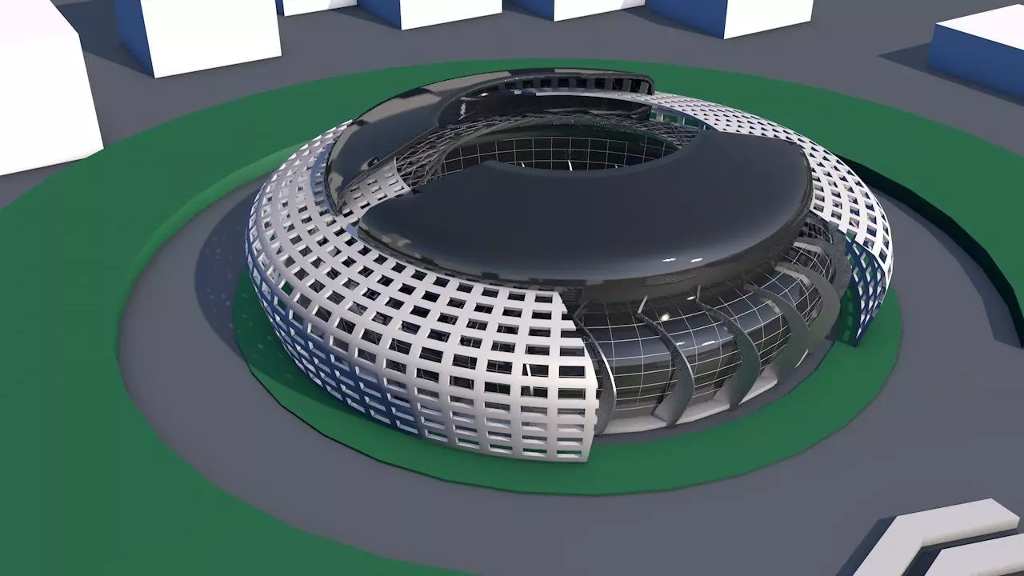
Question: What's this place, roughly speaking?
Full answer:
It's a sports ground.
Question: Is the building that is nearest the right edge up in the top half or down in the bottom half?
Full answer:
It is in the top half that the building that is nearest the right edge appears.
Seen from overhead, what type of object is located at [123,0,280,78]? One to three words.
building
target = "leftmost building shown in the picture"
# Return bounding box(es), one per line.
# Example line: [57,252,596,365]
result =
[0,0,103,176]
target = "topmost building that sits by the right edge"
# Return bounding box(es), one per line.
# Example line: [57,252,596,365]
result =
[928,5,1024,100]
